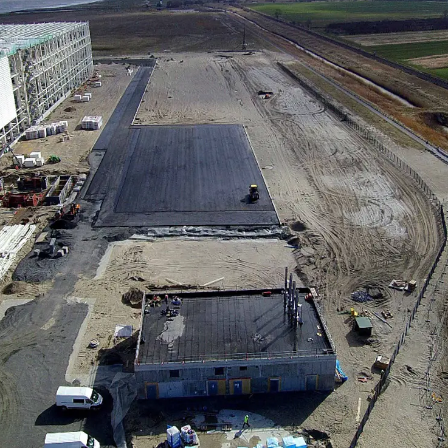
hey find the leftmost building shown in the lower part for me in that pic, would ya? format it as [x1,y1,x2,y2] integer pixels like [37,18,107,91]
[133,280,340,397]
